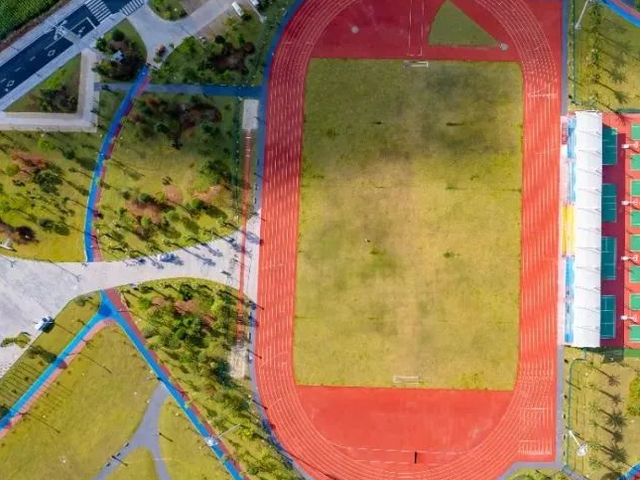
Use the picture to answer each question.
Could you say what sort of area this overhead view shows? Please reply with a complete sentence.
The area seen from above is a sports ground.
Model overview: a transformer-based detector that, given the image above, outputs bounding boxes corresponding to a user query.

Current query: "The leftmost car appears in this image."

[38,317,52,329]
